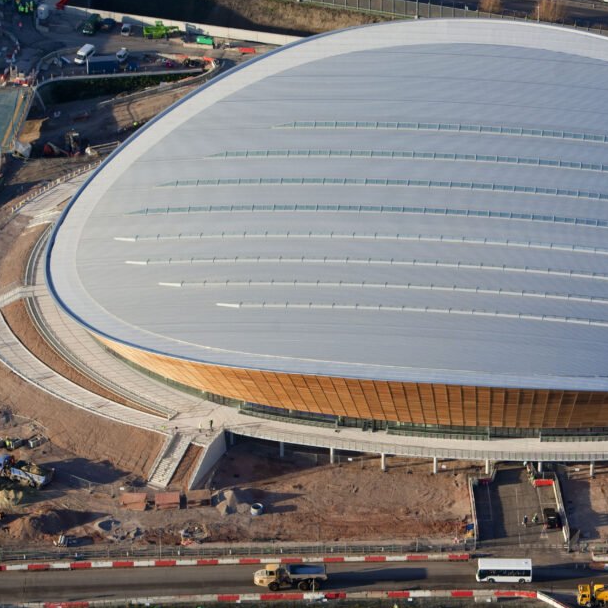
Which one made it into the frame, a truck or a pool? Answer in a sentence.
The one in the frame is a truck.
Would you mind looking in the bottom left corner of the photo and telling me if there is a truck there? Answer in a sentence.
Yes, there is a truck in the bottom left corner of the photo.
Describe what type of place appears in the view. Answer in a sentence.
What you see here is a sports ground.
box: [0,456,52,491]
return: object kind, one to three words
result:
truck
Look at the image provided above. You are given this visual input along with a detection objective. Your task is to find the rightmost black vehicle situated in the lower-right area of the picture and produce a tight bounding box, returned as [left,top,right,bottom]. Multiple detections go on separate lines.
[543,510,558,533]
